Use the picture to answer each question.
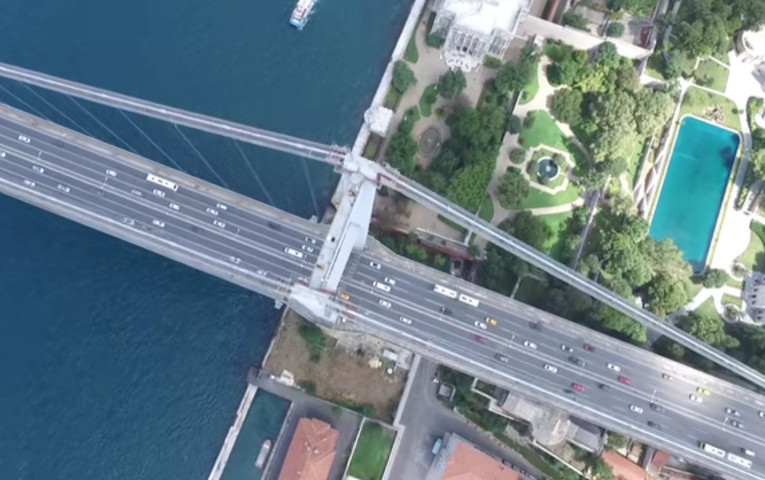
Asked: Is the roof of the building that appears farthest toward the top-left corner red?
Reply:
No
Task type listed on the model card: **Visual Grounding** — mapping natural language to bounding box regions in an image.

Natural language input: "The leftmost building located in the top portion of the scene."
[365,107,391,137]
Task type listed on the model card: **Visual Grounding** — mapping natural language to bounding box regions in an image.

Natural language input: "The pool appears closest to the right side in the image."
[648,113,744,278]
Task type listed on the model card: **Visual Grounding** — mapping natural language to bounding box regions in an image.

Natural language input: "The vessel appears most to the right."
[296,0,318,24]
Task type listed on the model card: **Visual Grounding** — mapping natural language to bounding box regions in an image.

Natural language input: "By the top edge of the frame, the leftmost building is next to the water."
[433,0,521,76]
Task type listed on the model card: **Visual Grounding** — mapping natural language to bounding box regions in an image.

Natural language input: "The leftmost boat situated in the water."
[255,439,270,469]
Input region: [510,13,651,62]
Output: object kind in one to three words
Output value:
building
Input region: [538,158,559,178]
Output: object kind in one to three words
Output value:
fountain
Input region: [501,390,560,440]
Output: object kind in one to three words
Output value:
building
